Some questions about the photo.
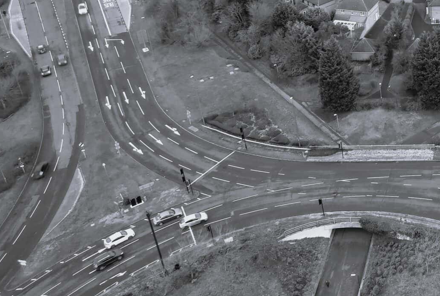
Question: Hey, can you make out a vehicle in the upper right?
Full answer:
No, I see no vehicle in the upper right.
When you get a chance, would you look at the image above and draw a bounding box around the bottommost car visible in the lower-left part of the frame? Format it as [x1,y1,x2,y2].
[89,249,126,272]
